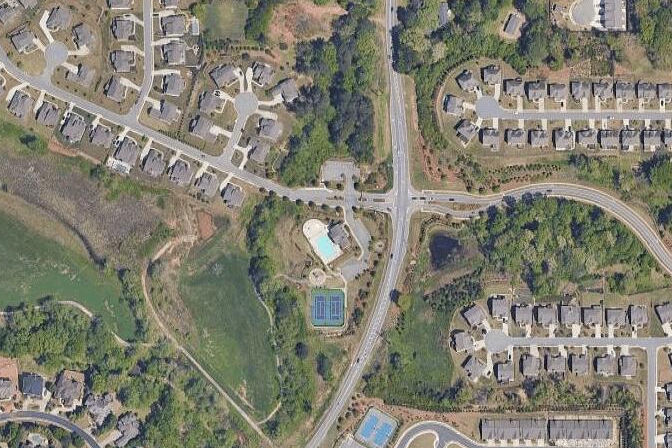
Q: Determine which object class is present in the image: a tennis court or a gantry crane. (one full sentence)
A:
This aerial view contains a tennis court.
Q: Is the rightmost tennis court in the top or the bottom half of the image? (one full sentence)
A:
The bottom half of the photo is where the rightmost tennis court is.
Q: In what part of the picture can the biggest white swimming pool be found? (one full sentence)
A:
The biggest white swimming pool appears toward the center of the photo.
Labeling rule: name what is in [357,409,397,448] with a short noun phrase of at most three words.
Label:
tennis court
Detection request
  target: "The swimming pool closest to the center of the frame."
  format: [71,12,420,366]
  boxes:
[303,220,343,264]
